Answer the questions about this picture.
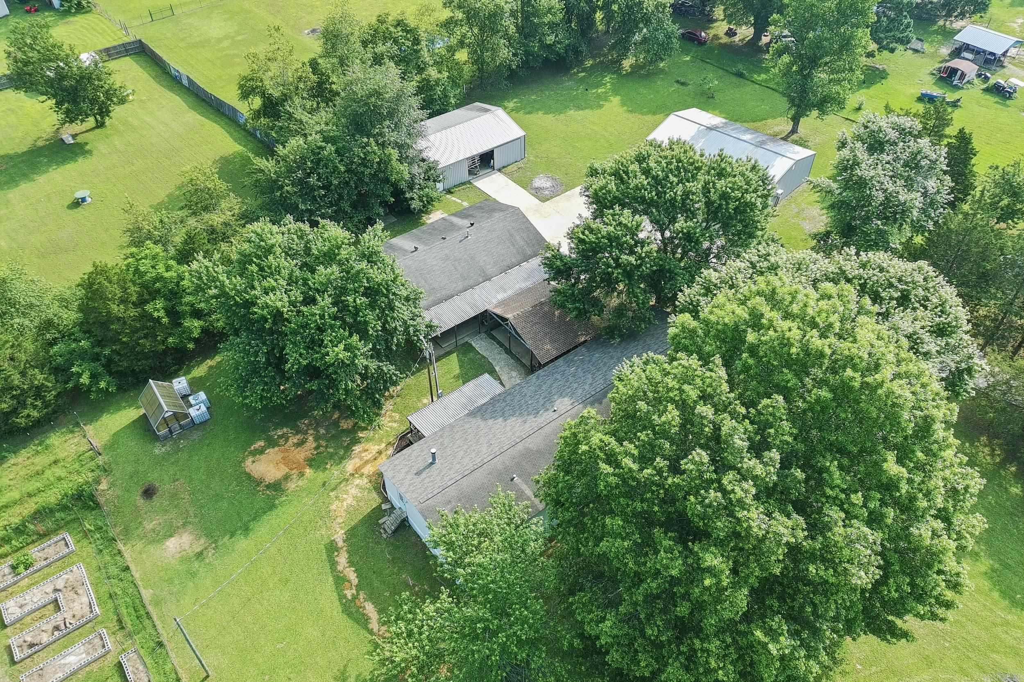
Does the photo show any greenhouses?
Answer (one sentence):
Yes, looking at the shot, I can spot a greenhouse.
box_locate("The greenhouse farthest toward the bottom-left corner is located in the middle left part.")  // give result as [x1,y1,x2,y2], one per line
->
[137,377,195,441]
